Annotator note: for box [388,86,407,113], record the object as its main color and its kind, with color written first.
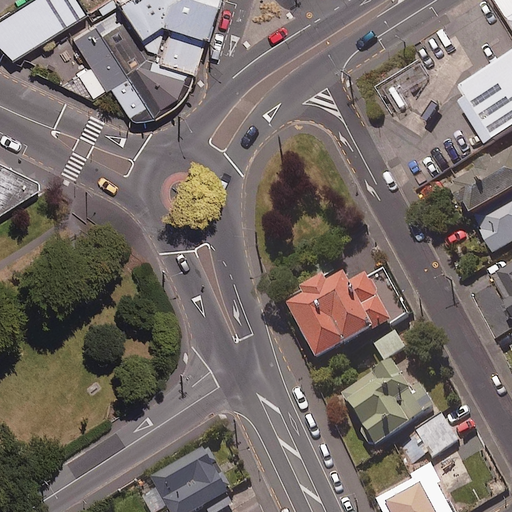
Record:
white vehicle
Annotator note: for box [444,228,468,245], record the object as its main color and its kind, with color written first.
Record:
red car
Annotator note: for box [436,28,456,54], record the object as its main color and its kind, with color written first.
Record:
white vehicle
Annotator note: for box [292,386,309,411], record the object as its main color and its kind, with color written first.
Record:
white car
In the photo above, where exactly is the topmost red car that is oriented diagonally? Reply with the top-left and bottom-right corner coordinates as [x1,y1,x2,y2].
[267,29,288,46]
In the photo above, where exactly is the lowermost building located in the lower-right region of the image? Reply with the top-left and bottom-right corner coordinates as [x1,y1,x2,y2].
[350,462,454,512]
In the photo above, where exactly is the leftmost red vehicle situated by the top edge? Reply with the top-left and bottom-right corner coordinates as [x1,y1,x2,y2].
[220,9,232,32]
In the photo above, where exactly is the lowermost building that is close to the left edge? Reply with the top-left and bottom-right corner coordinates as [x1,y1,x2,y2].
[0,165,40,218]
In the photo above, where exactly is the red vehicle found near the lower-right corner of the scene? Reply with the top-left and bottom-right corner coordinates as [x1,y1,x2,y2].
[456,420,476,435]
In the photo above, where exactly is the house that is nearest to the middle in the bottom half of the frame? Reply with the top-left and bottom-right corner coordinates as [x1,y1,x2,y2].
[286,270,390,355]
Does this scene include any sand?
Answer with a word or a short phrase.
No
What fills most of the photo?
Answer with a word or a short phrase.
paved ground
